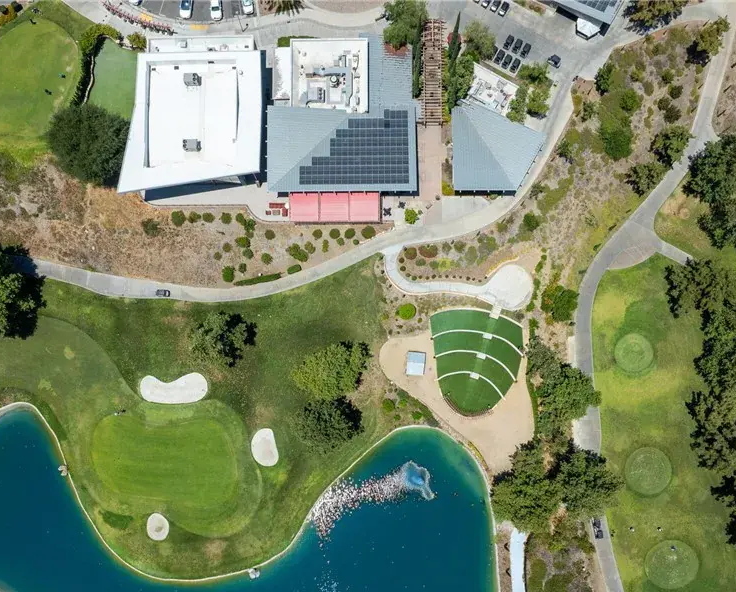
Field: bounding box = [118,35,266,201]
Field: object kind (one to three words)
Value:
building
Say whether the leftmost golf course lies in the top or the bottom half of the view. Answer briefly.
bottom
